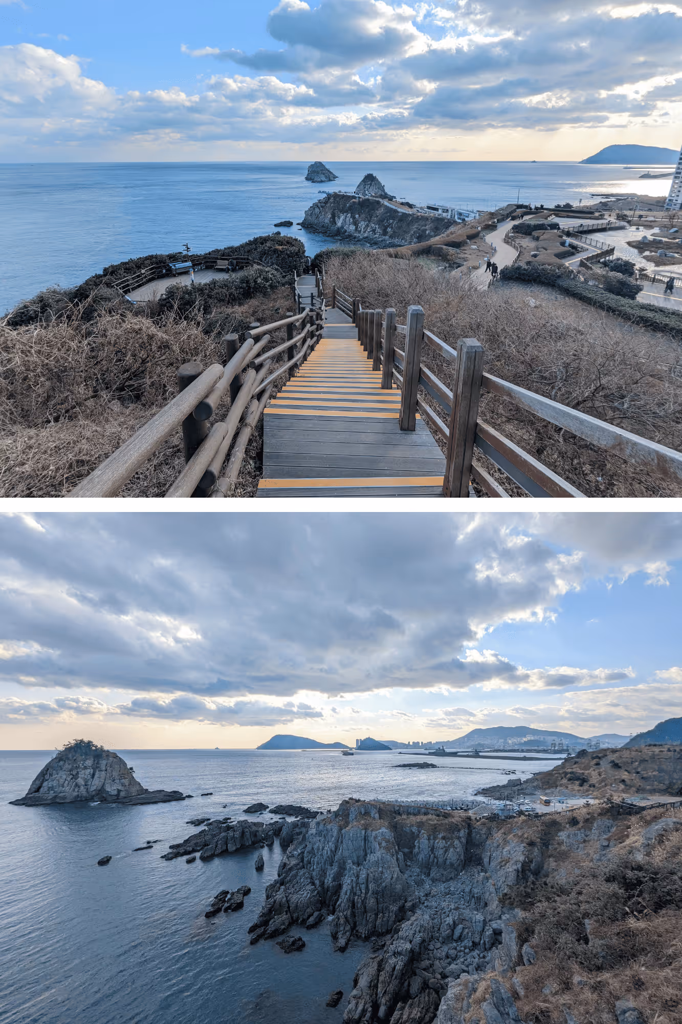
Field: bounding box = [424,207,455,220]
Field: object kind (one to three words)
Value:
building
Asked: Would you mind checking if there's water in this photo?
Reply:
Yes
